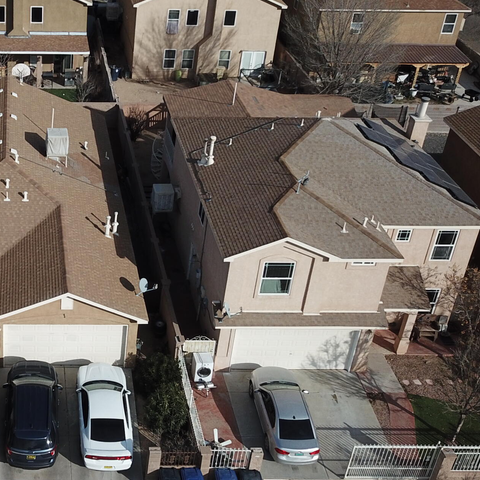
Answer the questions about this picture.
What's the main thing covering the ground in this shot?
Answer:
buildings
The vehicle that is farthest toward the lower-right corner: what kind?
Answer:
automobile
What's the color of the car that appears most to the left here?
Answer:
black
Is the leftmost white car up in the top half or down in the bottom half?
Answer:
bottom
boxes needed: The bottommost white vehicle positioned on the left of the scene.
[73,366,136,477]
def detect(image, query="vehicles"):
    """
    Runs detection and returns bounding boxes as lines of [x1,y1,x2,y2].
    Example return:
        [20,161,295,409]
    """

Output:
[73,366,136,477]
[249,368,324,471]
[0,365,63,473]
